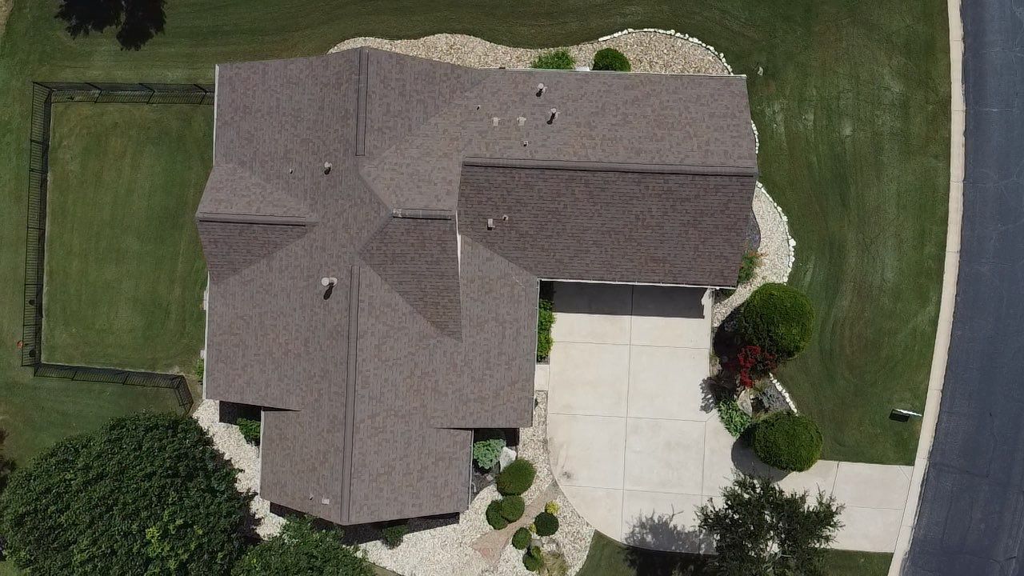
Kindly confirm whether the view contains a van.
No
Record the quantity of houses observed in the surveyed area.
1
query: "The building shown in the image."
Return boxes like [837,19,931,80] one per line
[195,46,762,525]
